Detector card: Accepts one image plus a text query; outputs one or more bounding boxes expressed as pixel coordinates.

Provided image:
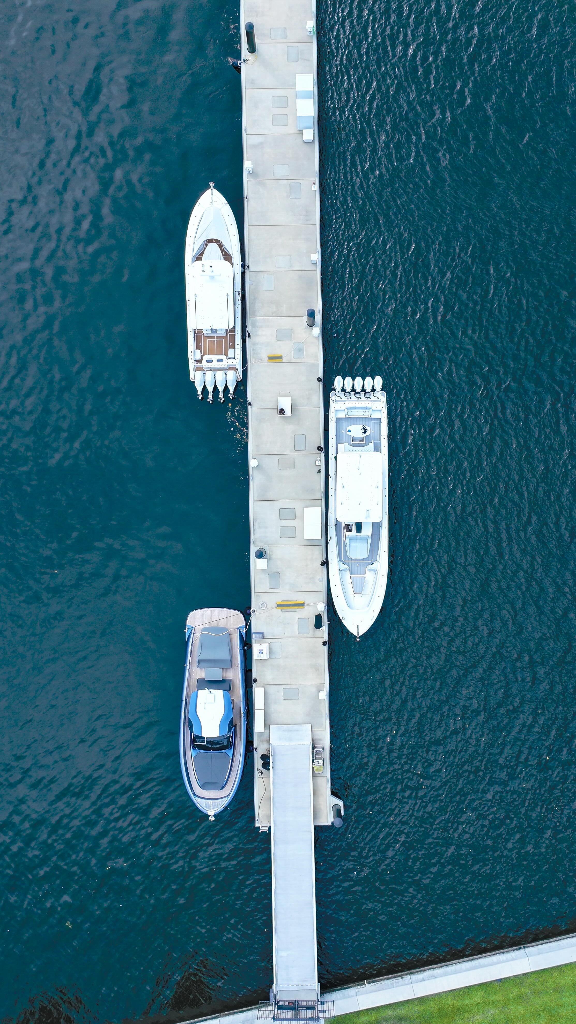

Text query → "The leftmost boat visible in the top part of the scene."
[185,181,242,404]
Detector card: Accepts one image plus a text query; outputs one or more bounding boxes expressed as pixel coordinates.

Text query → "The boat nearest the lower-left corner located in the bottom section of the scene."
[178,606,247,821]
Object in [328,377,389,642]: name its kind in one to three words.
boat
